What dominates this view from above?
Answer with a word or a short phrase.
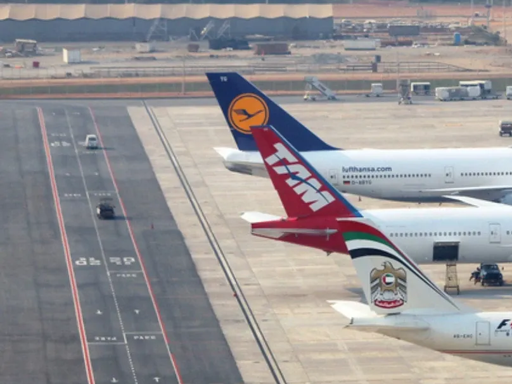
paved ground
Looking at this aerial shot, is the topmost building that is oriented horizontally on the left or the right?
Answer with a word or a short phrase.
left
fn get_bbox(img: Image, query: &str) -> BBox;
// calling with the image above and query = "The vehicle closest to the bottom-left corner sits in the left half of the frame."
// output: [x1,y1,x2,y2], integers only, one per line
[96,199,116,218]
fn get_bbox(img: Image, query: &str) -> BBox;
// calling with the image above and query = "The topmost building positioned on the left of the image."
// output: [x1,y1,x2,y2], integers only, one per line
[0,0,334,45]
